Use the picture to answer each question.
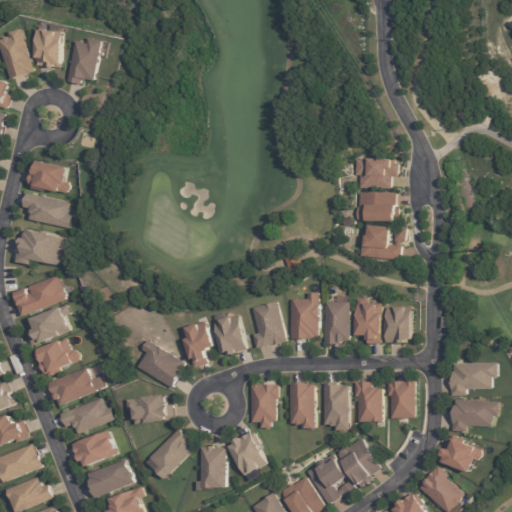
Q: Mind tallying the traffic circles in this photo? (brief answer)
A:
none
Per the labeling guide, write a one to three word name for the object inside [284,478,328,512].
house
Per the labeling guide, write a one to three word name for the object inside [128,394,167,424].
house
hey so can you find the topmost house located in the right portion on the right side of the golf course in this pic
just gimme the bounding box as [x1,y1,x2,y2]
[356,158,402,189]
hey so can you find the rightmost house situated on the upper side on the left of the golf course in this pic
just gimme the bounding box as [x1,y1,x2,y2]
[68,40,102,83]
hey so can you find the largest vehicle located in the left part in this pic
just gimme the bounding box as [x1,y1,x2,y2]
[10,356,24,375]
